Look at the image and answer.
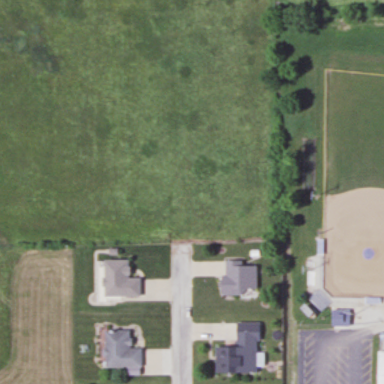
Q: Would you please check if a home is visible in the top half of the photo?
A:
No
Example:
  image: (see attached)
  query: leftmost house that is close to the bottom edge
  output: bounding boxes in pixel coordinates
[106,330,144,376]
